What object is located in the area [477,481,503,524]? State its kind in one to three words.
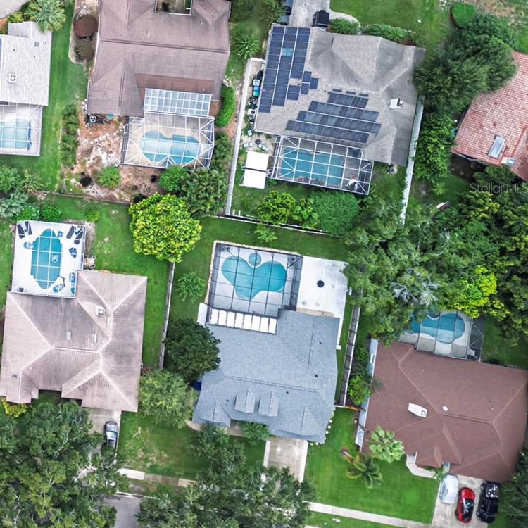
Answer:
vehicle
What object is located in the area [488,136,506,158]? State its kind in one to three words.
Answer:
solar panel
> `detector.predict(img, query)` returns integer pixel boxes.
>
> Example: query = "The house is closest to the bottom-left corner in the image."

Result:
[0,270,147,413]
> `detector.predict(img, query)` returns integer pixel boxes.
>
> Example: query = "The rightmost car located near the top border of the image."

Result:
[311,3,331,31]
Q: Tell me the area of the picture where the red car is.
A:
bottom right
